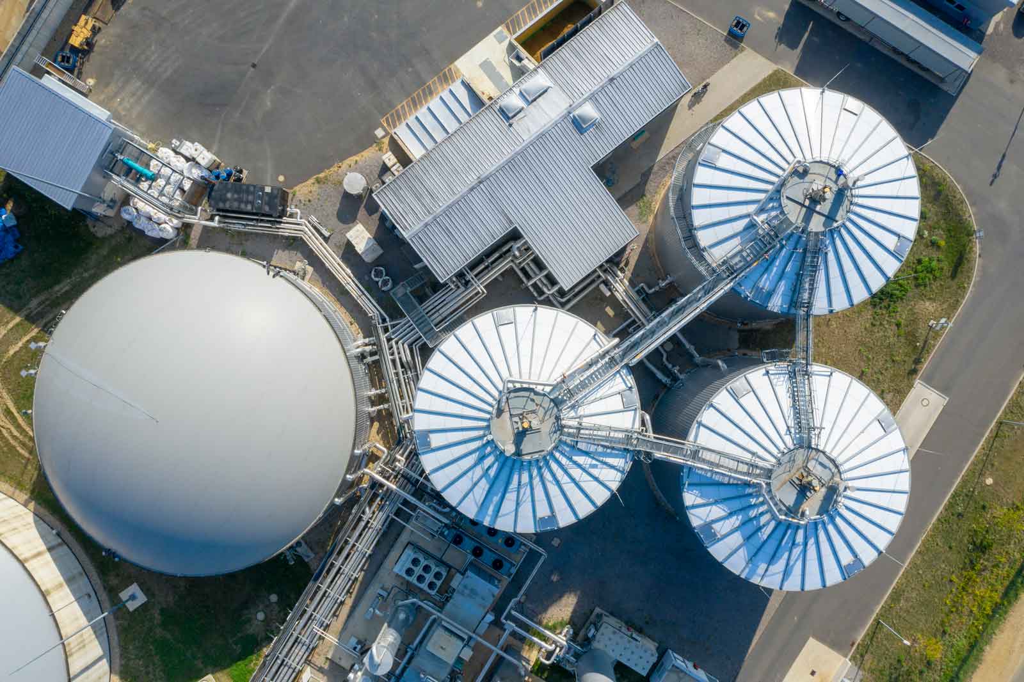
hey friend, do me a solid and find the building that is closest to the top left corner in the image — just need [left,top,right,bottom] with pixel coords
[0,65,149,216]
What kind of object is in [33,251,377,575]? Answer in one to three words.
storage tank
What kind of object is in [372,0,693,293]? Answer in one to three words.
building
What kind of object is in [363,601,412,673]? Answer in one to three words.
storage tank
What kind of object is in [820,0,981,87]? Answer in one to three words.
trailer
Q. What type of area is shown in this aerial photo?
industrial area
